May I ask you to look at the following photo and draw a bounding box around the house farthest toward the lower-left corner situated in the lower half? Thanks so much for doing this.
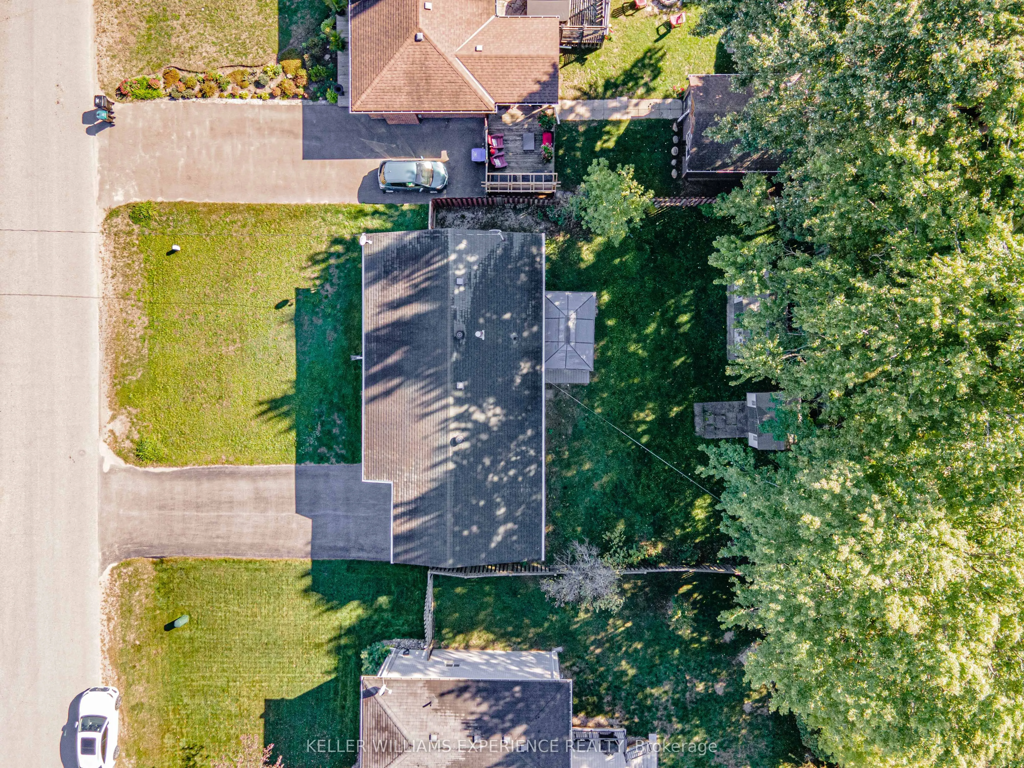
[357,643,574,768]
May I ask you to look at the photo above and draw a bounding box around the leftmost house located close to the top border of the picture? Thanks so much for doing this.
[348,0,572,130]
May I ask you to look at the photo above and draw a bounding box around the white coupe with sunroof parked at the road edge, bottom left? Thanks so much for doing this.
[75,685,119,766]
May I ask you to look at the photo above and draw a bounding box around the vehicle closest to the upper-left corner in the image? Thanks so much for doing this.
[379,157,448,193]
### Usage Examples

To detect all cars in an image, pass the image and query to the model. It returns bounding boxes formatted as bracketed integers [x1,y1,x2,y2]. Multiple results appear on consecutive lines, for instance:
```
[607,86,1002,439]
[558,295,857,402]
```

[75,685,119,766]
[379,157,448,193]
